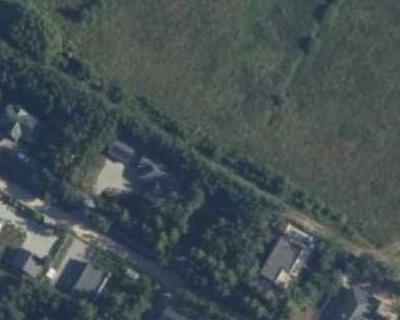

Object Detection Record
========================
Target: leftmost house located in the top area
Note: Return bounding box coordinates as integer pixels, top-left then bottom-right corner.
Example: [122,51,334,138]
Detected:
[1,103,38,142]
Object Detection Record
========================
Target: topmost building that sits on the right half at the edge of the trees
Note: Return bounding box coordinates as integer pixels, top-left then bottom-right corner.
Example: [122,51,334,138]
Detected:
[261,238,299,282]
